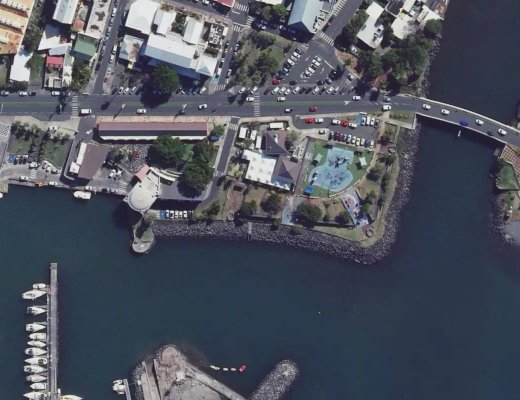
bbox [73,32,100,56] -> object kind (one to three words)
building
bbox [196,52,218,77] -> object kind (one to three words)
house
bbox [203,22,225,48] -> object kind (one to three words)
building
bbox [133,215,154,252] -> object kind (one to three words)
pier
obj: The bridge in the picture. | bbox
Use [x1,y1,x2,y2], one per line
[416,97,520,151]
